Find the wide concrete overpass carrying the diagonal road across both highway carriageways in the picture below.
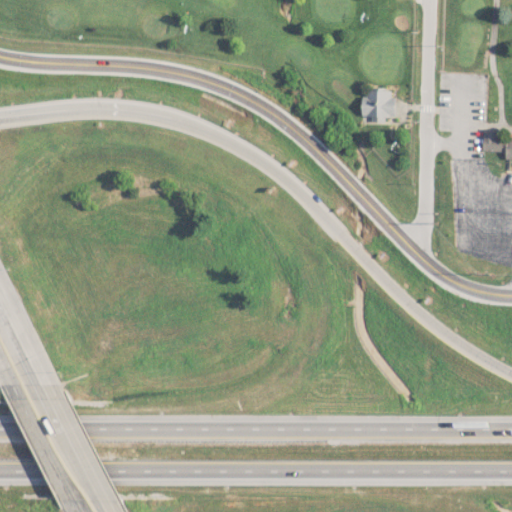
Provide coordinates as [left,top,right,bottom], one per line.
[0,383,126,512]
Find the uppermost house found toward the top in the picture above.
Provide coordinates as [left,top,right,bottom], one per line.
[362,88,396,122]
